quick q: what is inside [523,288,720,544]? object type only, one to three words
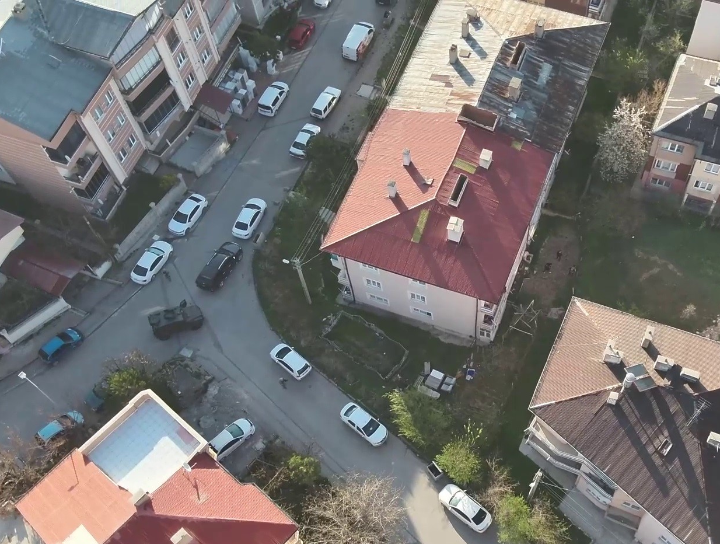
house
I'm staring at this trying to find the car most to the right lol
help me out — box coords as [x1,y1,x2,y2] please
[438,485,493,535]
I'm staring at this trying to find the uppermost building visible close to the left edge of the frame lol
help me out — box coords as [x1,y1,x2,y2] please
[0,0,259,225]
